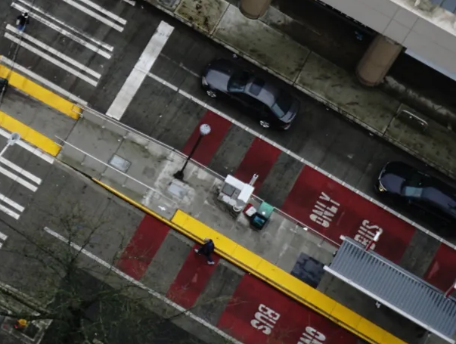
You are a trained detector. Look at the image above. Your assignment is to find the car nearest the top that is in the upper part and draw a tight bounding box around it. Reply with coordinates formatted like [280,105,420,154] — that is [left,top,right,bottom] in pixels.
[199,57,306,134]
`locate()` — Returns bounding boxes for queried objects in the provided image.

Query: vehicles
[371,162,456,240]
[199,57,306,134]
